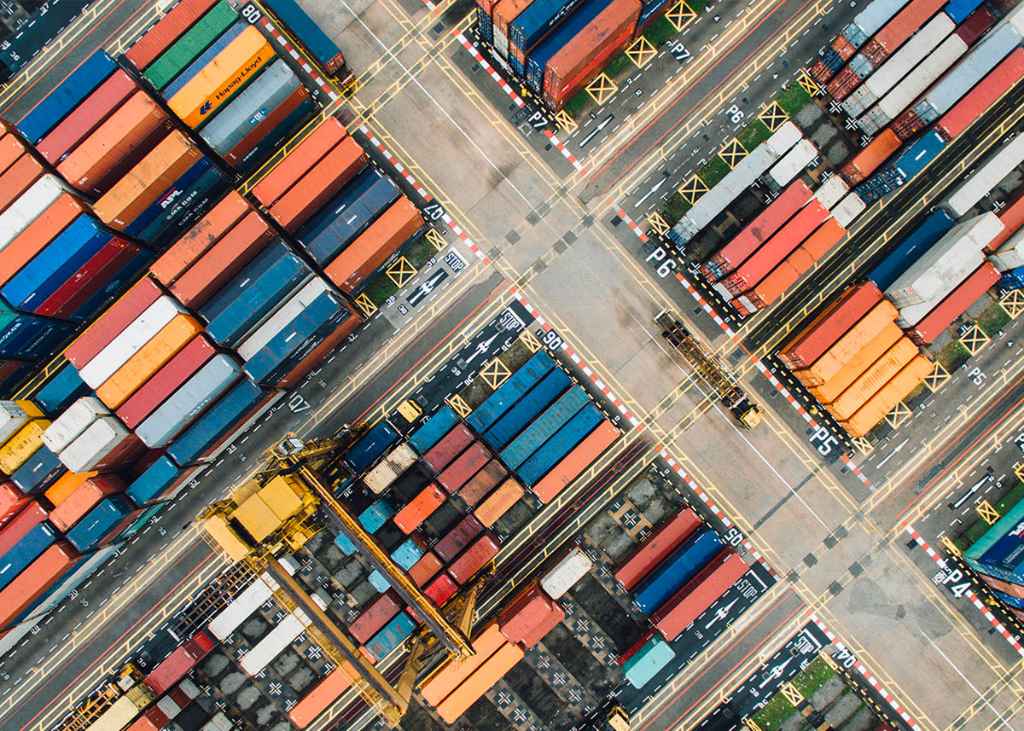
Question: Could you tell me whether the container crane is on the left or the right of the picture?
left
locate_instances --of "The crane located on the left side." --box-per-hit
[198,421,493,731]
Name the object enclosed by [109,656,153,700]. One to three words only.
truck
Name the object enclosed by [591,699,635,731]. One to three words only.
truck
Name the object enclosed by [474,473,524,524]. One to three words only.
shipping container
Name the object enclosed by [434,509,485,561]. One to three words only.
shipping container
